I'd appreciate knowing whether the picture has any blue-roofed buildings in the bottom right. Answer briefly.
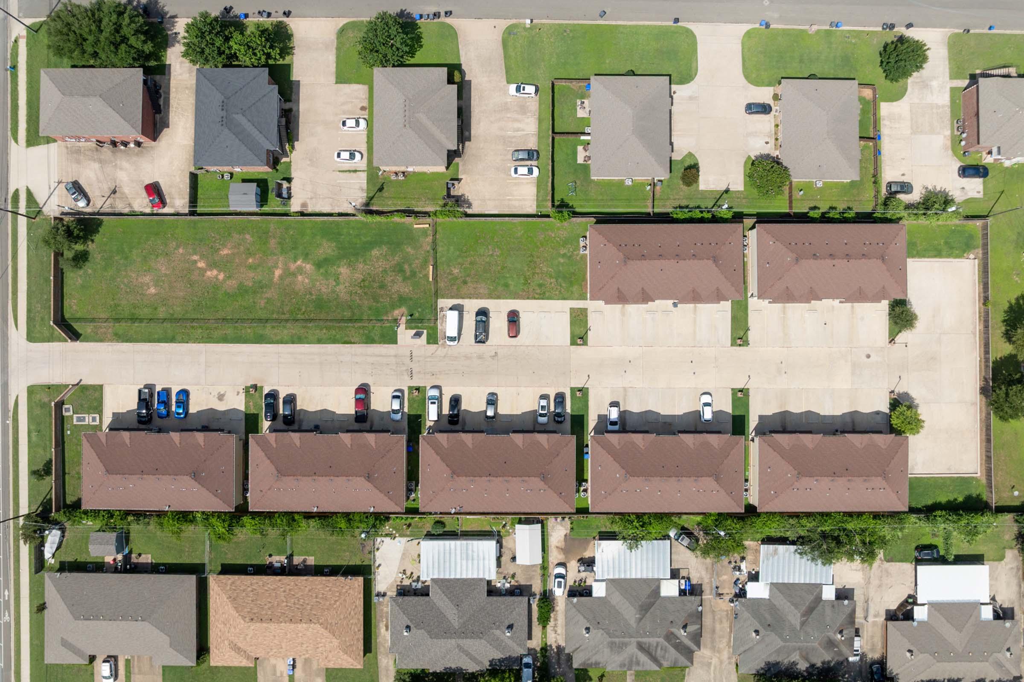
No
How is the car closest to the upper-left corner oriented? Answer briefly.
on a diagonal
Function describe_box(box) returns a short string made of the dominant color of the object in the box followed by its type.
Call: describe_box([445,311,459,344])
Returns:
white vehicle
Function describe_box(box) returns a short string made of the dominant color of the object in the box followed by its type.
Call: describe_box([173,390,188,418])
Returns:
blue car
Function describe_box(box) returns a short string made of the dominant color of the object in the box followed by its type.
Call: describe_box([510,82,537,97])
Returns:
white car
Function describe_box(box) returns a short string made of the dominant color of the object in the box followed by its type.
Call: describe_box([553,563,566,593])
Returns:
white vehicle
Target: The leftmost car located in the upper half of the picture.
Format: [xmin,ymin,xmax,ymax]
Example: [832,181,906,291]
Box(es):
[66,180,90,207]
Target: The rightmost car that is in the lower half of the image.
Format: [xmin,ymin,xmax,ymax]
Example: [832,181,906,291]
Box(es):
[913,545,940,559]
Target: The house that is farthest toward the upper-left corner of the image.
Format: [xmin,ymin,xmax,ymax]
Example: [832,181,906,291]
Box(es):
[40,67,167,142]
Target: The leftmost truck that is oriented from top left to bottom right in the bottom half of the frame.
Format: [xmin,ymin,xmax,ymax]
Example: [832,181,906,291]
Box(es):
[668,524,695,554]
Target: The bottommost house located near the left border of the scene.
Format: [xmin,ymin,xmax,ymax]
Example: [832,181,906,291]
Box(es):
[44,570,201,666]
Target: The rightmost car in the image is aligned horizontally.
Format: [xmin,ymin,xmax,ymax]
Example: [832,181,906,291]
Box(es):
[956,164,987,178]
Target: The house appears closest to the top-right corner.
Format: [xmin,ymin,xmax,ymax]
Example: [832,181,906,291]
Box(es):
[951,70,1024,169]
